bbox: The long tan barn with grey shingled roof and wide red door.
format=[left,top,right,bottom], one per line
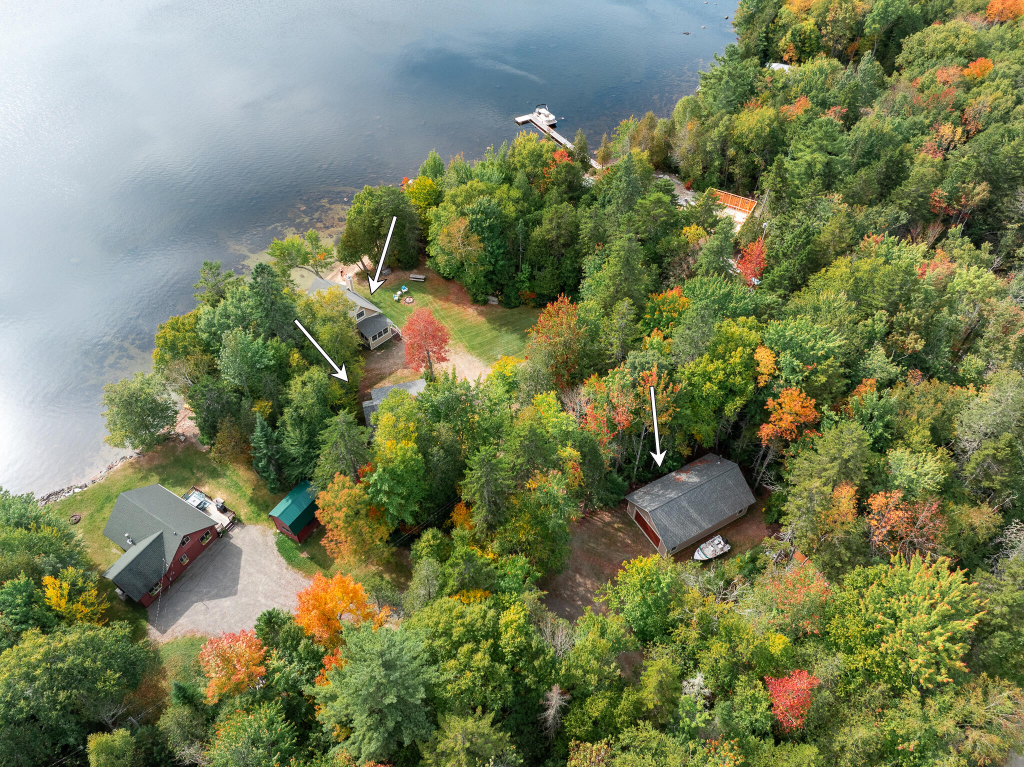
[627,451,755,559]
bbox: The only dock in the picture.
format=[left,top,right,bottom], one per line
[515,114,577,153]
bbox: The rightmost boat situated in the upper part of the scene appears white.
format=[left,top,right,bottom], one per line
[535,103,561,128]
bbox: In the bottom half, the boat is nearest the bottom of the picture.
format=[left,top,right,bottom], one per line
[694,535,730,559]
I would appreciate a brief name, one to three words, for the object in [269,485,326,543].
shed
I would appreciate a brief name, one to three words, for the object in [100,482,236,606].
house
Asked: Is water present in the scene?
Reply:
Yes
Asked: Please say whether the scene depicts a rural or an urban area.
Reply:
rural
